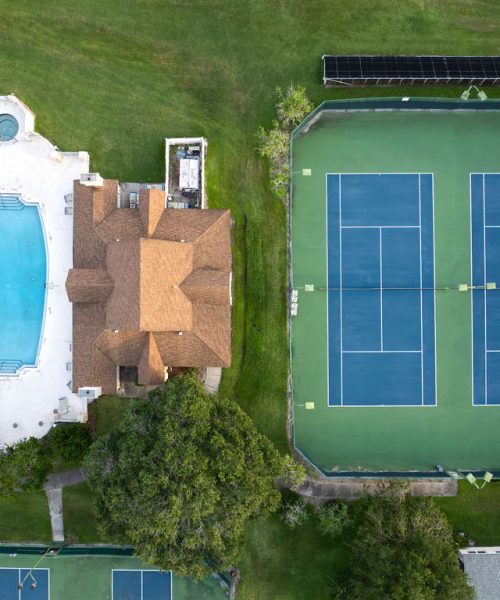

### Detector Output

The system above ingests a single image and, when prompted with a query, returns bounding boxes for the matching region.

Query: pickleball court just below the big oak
[112,570,174,600]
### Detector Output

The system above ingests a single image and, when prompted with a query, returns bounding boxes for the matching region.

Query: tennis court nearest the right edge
[468,173,500,405]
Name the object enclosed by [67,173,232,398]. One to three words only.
building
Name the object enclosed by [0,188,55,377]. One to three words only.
swimming pool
